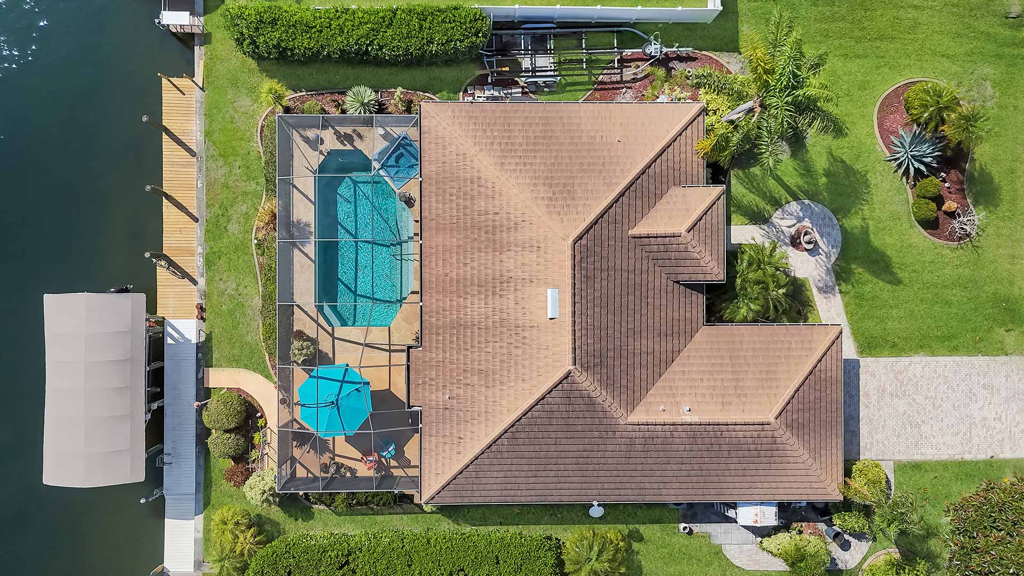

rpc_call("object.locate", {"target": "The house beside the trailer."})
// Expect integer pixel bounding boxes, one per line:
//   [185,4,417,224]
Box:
[405,99,847,504]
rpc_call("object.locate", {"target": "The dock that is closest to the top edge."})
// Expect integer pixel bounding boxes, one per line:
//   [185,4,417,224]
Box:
[169,0,194,33]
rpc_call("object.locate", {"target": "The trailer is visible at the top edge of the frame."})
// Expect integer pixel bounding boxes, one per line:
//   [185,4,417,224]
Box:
[485,14,694,84]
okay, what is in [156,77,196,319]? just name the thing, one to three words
pier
